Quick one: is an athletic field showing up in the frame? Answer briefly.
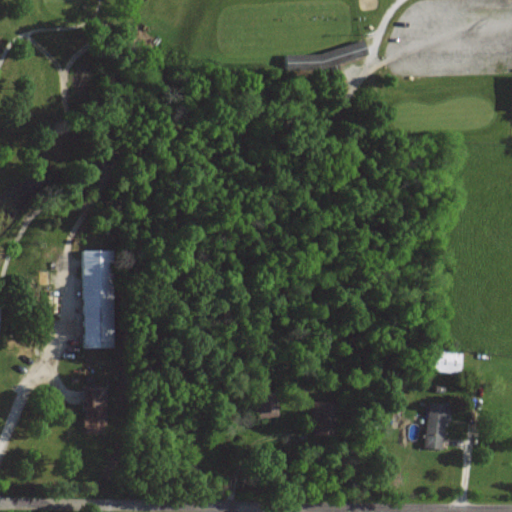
Yes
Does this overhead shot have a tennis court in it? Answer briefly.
No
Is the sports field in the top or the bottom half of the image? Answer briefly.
top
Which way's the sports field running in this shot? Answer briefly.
horizontally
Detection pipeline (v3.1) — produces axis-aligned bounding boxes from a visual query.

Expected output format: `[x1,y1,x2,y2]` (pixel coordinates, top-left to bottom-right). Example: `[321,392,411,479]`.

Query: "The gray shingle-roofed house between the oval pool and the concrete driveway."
[426,412,449,450]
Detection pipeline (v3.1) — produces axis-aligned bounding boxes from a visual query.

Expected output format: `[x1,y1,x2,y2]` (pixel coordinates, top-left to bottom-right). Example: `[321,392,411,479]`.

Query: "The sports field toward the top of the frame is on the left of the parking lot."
[217,2,352,64]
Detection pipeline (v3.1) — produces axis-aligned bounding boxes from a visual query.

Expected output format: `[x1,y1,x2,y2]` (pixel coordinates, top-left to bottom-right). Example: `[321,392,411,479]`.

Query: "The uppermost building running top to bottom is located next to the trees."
[80,250,115,349]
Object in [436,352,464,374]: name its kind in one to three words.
building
